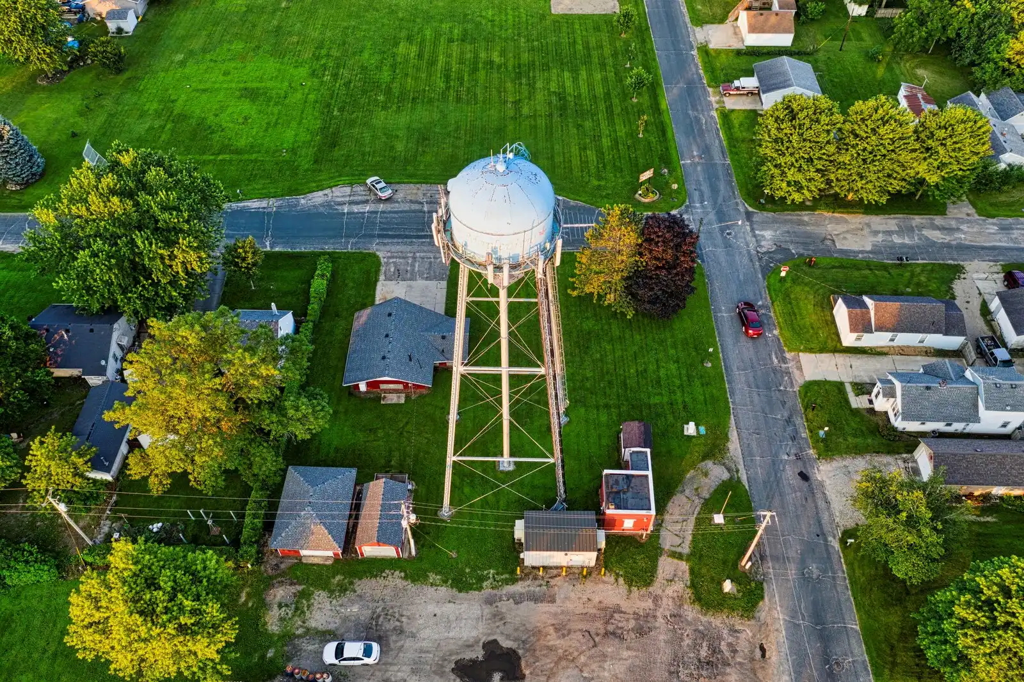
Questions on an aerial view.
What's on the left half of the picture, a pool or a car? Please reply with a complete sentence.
The feature located on the left half of the picture is a car.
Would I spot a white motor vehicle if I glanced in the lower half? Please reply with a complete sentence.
Yes, you'll find a white motor vehicle in the lower half.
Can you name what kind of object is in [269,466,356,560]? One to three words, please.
building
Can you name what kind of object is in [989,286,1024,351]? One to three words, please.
house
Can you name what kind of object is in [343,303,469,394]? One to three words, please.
house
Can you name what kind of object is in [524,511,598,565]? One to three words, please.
shed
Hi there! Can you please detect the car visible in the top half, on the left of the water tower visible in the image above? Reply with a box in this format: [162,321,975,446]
[366,177,394,201]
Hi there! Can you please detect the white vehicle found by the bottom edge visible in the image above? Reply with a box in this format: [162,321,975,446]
[322,639,380,667]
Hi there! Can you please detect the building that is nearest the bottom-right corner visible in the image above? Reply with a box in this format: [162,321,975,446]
[918,438,1024,500]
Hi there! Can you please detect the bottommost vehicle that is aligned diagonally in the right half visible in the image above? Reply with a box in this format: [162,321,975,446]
[972,331,1011,367]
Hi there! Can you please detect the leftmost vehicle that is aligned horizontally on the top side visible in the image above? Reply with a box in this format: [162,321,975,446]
[719,79,759,99]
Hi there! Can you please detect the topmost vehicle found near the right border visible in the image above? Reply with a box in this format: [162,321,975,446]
[996,270,1024,290]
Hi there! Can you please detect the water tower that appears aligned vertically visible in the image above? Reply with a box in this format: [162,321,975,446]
[430,134,570,523]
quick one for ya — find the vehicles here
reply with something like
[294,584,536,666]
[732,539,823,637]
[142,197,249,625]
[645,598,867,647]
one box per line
[735,303,763,336]
[719,79,759,99]
[996,270,1024,290]
[366,177,394,201]
[972,331,1011,367]
[322,639,380,667]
